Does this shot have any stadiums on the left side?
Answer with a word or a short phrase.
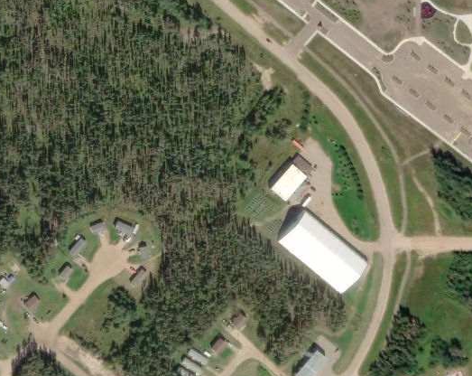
No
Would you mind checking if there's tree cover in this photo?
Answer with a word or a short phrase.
Yes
